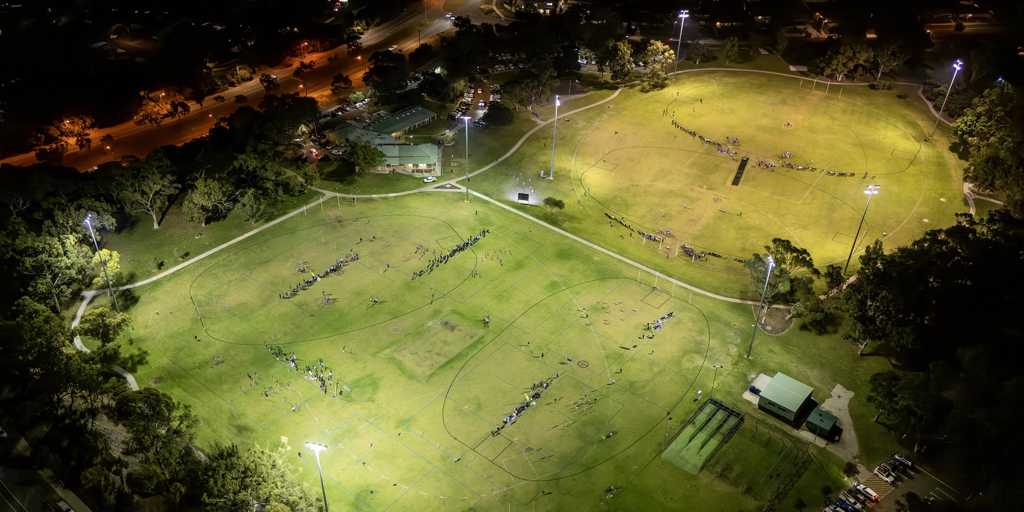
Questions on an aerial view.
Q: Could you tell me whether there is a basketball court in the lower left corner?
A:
No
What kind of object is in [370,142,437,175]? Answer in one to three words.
building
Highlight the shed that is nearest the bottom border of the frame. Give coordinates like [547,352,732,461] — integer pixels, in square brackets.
[805,407,838,438]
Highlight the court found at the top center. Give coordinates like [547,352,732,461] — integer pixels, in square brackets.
[535,80,595,107]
